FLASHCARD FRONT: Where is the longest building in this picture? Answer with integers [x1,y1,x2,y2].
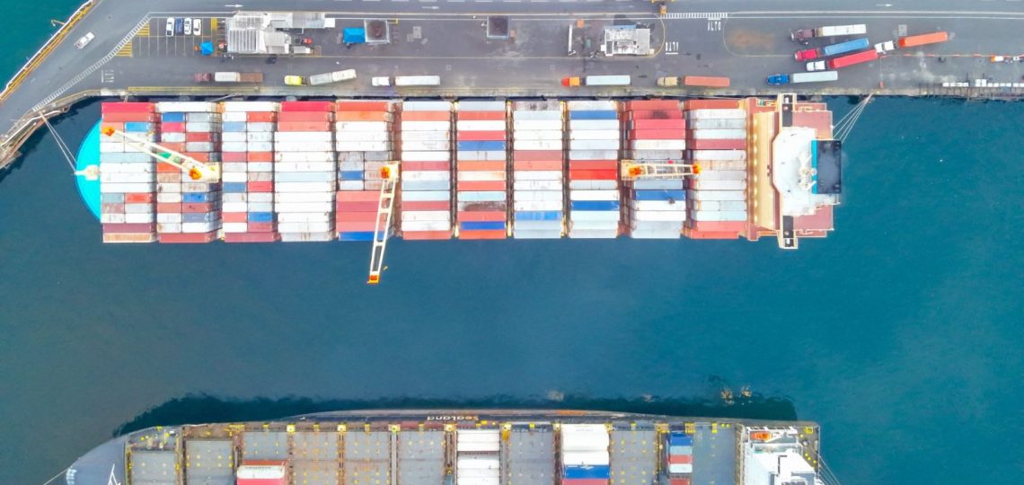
[226,11,327,55]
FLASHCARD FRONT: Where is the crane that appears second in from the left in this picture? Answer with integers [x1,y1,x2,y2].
[368,162,402,284]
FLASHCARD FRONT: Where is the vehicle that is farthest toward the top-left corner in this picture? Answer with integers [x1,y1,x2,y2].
[76,33,95,49]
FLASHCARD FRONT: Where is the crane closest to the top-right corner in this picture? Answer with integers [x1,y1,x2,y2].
[617,160,698,182]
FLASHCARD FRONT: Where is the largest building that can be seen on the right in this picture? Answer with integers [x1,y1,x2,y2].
[604,25,650,57]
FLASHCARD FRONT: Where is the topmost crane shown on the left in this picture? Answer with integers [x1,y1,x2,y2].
[104,126,232,183]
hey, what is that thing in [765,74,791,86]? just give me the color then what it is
blue vehicle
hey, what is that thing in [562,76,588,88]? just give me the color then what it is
red vehicle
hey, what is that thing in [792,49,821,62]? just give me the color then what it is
red vehicle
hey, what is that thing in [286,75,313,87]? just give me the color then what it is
yellow vehicle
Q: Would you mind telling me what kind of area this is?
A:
port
